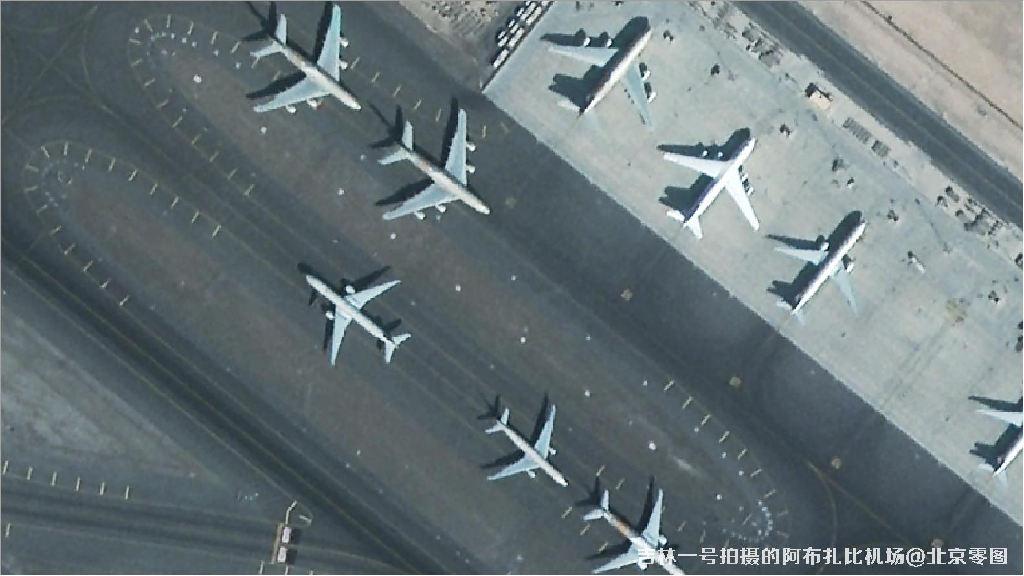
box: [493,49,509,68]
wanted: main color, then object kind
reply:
white vehicle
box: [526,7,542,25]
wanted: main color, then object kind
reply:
white vehicle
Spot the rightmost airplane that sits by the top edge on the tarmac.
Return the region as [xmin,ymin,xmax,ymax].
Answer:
[546,25,657,133]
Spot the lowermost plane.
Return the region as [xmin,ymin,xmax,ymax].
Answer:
[586,490,685,576]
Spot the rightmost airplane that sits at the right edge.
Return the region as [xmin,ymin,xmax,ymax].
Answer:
[975,405,1024,482]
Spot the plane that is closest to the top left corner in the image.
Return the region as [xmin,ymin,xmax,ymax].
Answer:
[252,4,361,114]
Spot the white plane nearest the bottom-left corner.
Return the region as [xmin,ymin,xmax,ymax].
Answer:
[306,274,406,365]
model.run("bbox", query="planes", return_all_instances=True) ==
[586,490,685,576]
[546,25,657,133]
[306,274,406,365]
[380,110,490,222]
[488,409,567,485]
[975,405,1024,482]
[661,138,758,243]
[774,223,866,323]
[252,4,361,114]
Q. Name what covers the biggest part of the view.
paved ground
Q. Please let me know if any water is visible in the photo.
No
